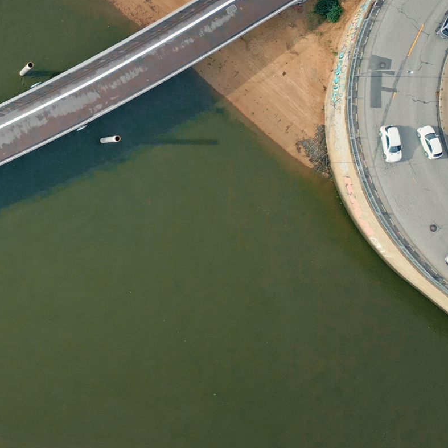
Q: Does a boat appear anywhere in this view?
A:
No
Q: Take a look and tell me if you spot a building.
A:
No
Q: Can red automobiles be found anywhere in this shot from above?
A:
No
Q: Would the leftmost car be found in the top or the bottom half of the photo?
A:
top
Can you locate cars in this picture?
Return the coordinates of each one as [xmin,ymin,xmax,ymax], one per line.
[418,123,447,161]
[437,10,448,42]
[380,124,405,164]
